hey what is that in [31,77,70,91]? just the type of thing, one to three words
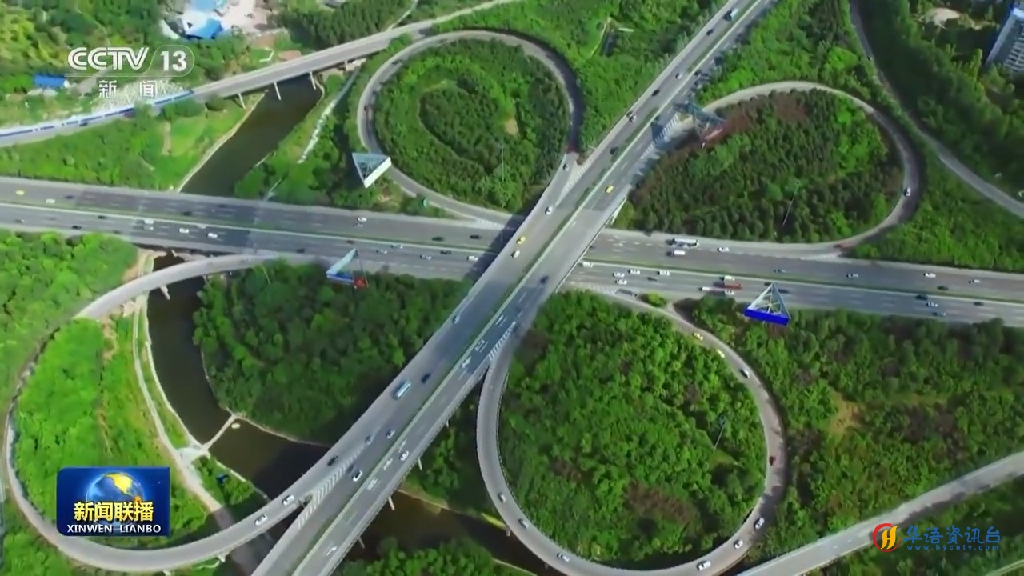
shed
